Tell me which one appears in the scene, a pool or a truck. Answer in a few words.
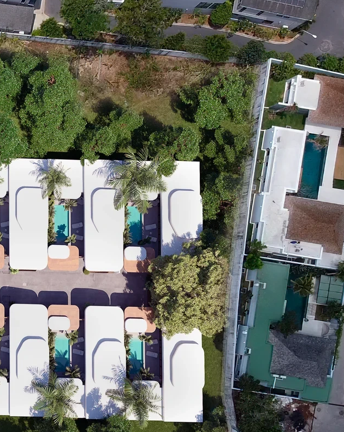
pool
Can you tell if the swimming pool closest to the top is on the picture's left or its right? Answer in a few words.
right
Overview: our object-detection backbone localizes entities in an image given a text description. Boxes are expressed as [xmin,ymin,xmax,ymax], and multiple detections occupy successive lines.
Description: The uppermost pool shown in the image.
[296,131,331,200]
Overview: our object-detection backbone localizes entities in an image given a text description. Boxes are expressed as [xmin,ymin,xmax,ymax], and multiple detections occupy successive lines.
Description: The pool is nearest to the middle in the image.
[126,203,145,246]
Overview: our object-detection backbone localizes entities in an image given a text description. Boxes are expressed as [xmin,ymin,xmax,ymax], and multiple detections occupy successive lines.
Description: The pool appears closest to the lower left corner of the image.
[52,333,72,376]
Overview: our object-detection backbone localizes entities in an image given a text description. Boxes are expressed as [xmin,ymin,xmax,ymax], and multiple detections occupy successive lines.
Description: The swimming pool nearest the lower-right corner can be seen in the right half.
[284,273,311,330]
